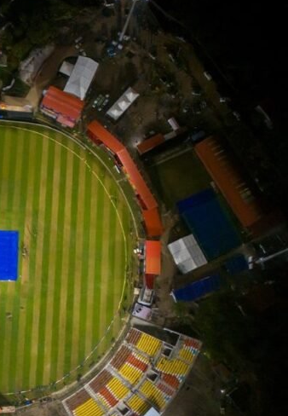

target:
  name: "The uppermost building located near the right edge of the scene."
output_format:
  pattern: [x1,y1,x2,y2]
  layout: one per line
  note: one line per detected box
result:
[194,129,280,229]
